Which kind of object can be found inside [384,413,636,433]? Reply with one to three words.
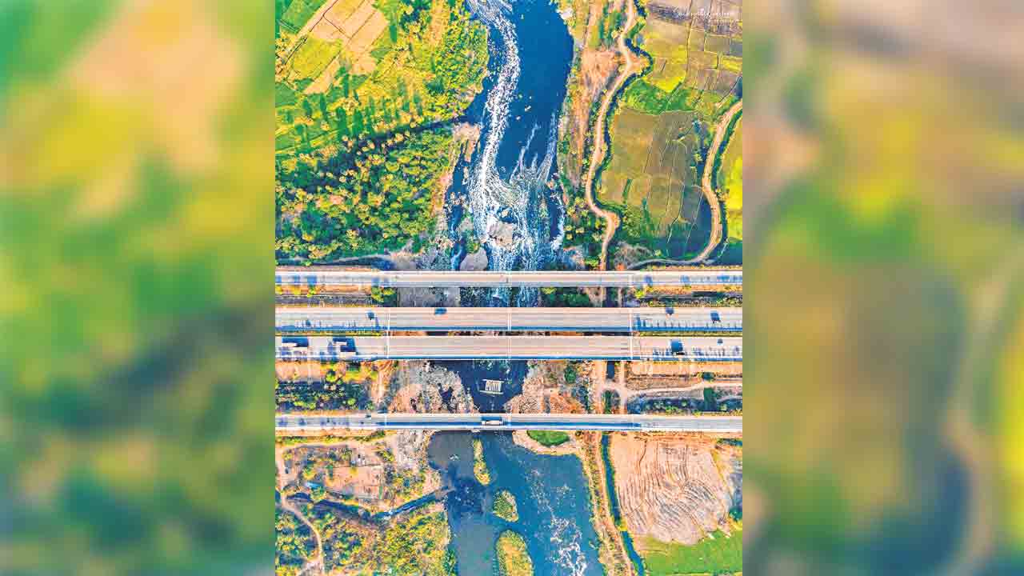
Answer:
bridge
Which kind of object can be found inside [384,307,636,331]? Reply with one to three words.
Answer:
bridge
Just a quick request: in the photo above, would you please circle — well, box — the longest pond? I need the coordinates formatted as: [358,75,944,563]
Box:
[671,188,711,253]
